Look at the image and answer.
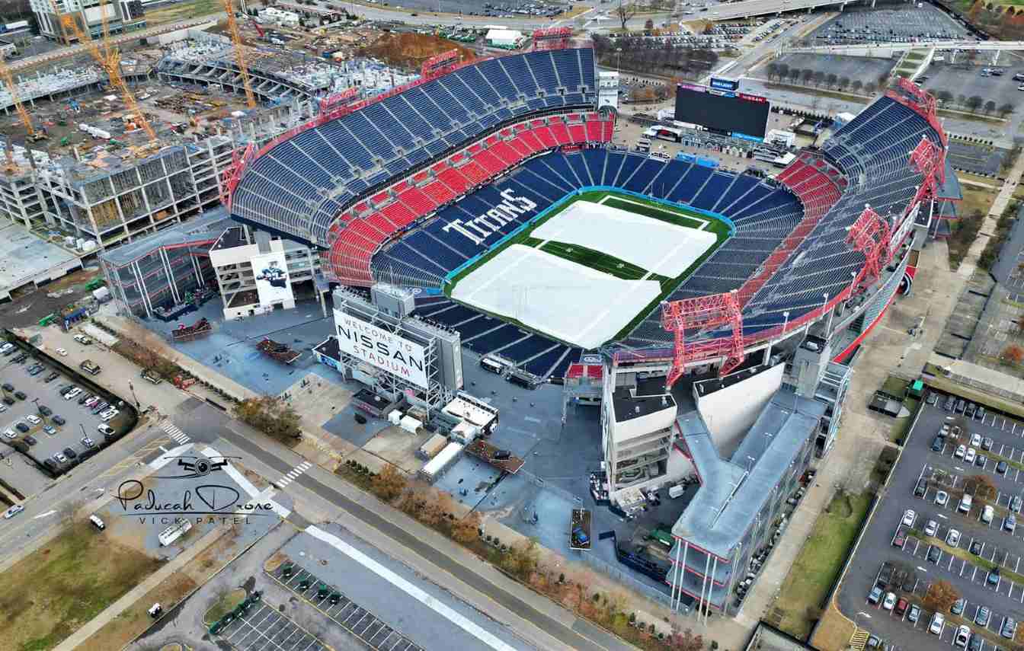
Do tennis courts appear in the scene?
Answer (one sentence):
No, no tennis court is visible in the view.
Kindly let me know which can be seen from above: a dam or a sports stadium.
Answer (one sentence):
This aerial view contains a sports stadium.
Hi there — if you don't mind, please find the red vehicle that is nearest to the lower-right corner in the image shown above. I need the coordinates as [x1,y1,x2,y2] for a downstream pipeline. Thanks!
[896,597,908,613]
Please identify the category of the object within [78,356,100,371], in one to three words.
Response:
vehicle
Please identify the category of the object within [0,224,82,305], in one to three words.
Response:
building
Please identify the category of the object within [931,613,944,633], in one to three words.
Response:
vehicle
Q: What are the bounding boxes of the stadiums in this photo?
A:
[220,39,949,414]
